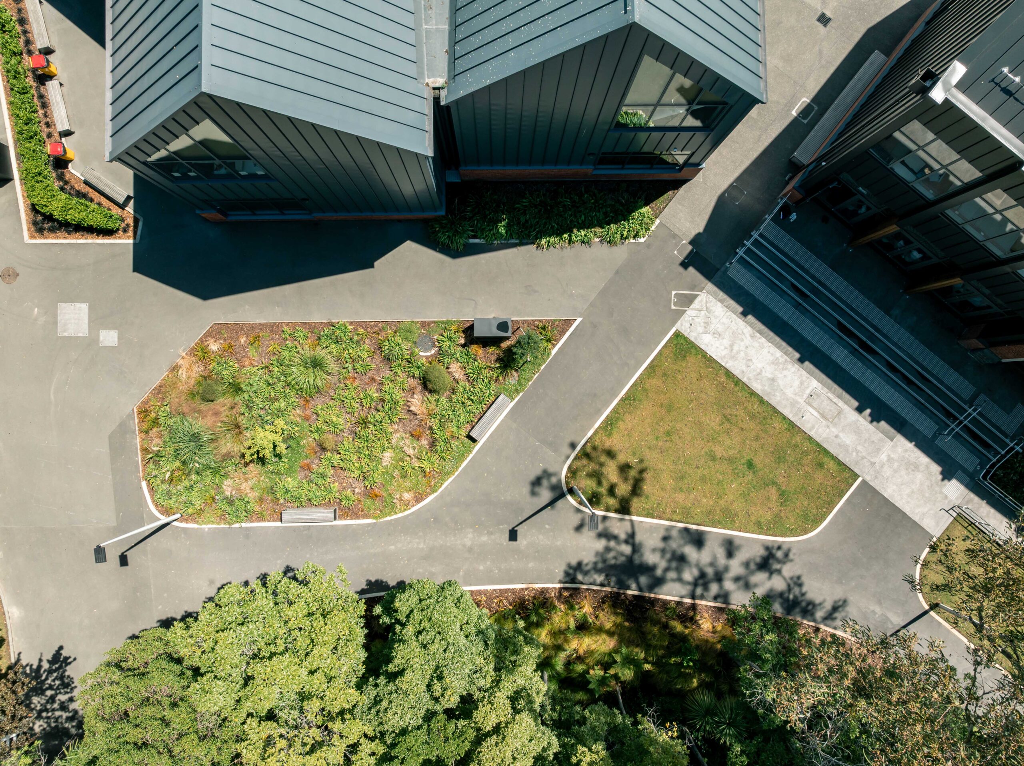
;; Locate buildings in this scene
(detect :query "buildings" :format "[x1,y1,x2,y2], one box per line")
[782,0,1024,347]
[103,0,448,221]
[444,0,763,180]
